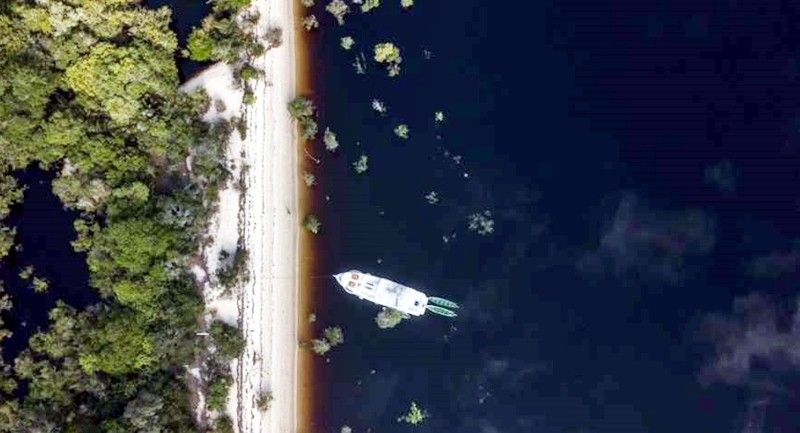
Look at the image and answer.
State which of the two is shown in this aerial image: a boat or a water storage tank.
boat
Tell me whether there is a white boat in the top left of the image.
No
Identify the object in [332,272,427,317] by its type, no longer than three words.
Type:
boat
